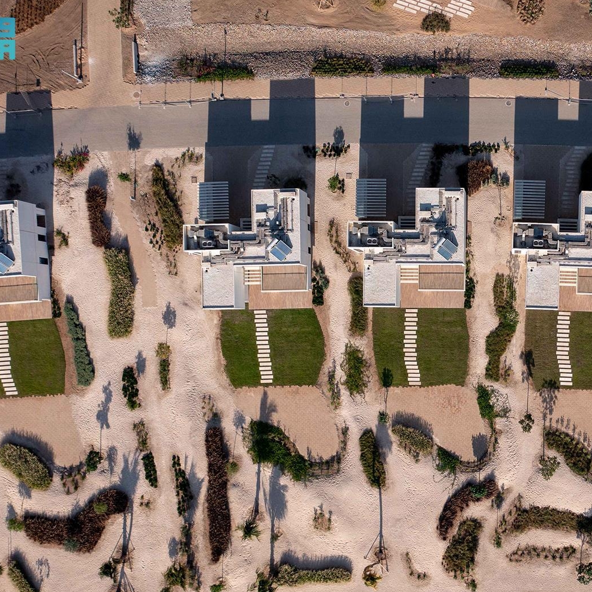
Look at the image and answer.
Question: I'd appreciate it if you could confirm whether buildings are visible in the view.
Yes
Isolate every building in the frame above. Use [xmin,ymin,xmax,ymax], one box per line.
[0,200,54,322]
[183,189,314,310]
[511,192,592,312]
[348,188,466,308]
